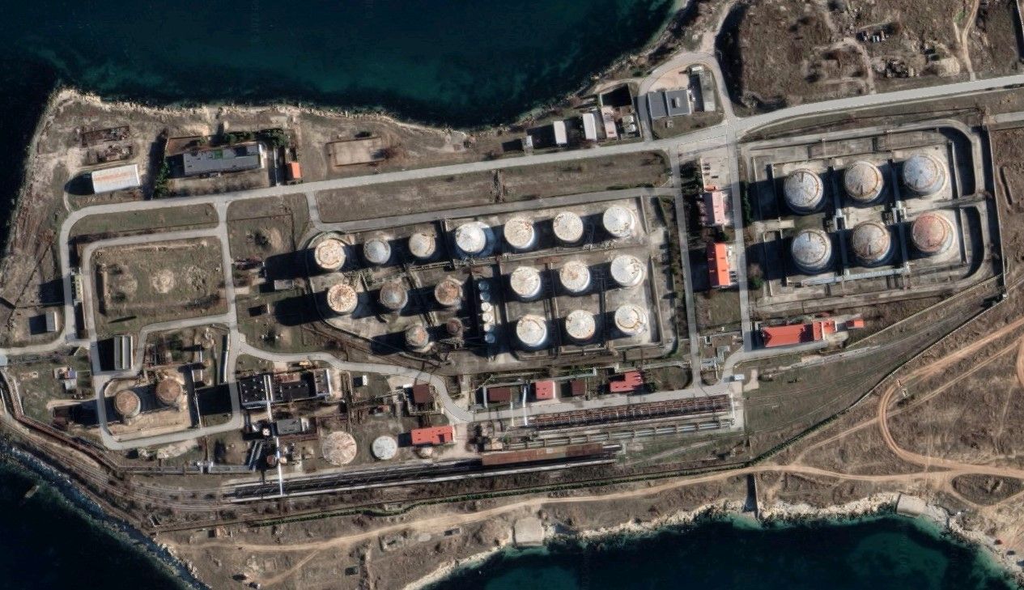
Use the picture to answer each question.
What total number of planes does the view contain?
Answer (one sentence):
The picture shows no planes.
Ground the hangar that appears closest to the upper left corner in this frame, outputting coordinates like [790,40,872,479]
[91,165,142,194]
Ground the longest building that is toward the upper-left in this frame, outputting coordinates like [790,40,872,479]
[184,143,261,177]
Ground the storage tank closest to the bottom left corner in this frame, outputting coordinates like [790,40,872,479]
[115,390,143,419]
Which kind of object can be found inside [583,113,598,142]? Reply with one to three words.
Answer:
shed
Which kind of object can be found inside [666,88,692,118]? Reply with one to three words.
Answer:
building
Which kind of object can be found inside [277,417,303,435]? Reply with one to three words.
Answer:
building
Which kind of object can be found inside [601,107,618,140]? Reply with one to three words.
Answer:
shed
